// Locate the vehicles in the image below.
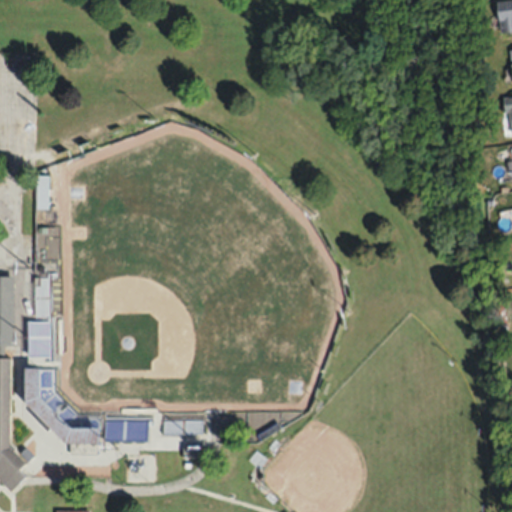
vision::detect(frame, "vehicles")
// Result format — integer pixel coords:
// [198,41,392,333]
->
[26,124,34,132]
[26,300,33,314]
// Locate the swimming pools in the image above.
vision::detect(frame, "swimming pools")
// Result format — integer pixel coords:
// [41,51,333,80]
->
[493,166,506,179]
[498,218,512,232]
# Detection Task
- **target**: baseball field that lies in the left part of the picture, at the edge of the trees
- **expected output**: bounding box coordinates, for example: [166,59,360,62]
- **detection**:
[52,122,346,412]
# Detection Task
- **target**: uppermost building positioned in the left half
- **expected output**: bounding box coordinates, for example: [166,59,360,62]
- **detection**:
[37,176,52,211]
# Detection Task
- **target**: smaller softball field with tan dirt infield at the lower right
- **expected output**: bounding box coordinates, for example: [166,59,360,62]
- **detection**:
[264,316,484,512]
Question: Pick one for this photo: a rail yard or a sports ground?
sports ground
